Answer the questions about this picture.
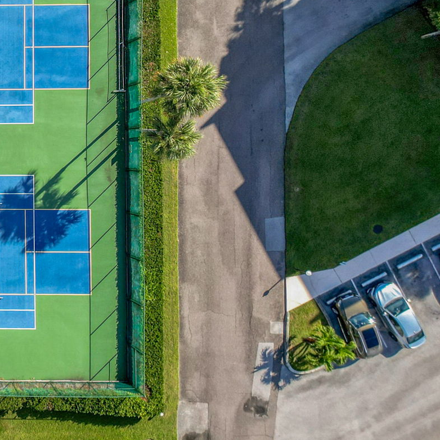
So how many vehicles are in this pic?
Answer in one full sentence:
In total, 2 vehicles can be seen.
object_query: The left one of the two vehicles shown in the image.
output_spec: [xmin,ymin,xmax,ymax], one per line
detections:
[332,291,387,360]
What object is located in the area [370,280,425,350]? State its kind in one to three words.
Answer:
car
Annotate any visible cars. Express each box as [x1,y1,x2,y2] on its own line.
[332,291,387,360]
[370,280,425,350]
